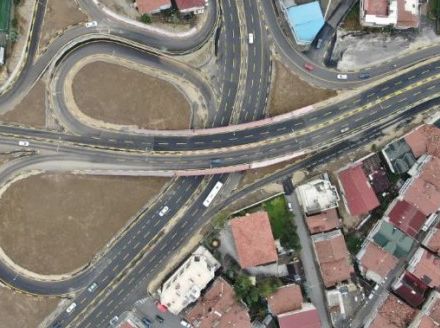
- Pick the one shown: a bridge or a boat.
bridge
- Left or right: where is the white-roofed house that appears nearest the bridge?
right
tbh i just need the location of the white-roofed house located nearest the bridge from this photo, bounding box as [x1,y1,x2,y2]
[293,178,340,213]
